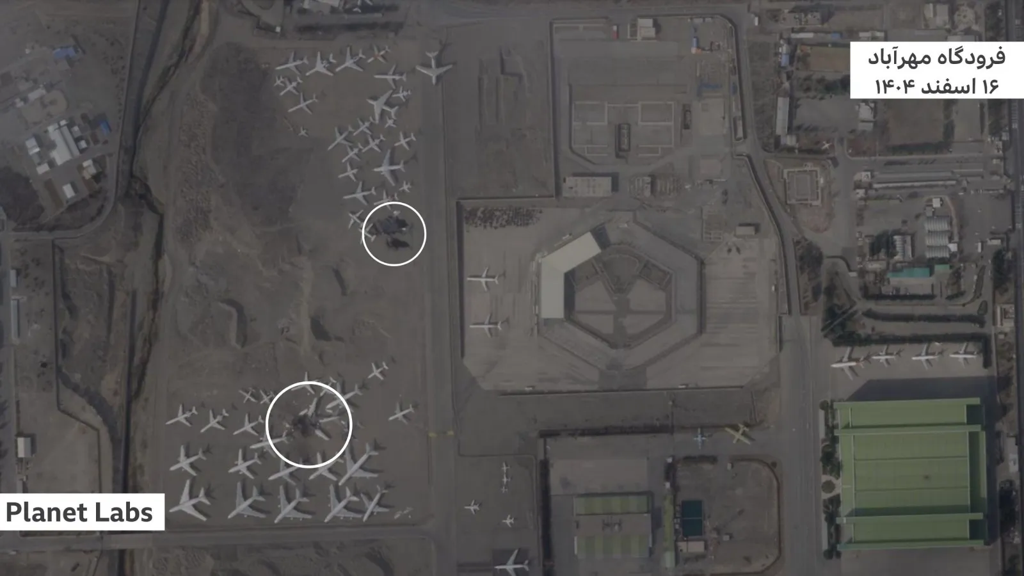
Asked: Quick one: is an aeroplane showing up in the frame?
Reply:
Yes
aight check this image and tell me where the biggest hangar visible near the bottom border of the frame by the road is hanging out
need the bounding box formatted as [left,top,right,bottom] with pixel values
[835,398,989,550]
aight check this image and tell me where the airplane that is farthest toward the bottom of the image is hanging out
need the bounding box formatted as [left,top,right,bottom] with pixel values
[494,549,529,576]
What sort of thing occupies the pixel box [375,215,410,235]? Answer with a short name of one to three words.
airplane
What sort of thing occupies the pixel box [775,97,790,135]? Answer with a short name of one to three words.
shed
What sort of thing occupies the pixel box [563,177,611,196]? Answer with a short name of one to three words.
building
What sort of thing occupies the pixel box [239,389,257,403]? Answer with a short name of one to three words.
airplane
